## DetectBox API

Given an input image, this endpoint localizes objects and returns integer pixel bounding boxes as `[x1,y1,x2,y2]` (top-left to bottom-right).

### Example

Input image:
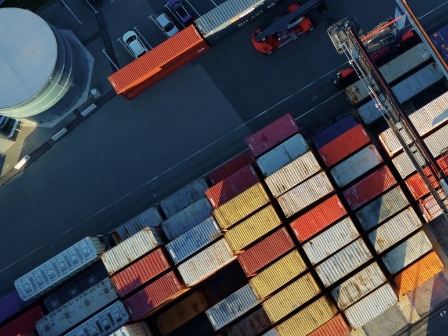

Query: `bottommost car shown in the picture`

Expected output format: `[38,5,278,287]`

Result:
[123,30,149,59]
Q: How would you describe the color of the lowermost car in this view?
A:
blue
